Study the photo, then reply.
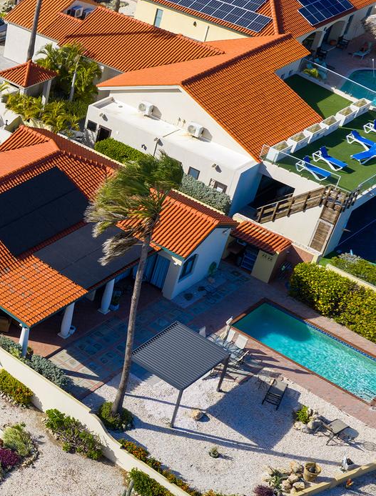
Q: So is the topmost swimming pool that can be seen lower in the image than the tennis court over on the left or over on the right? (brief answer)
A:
right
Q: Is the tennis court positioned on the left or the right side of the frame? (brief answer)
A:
right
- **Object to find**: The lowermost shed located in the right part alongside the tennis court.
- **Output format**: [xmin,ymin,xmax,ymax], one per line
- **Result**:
[229,217,292,283]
